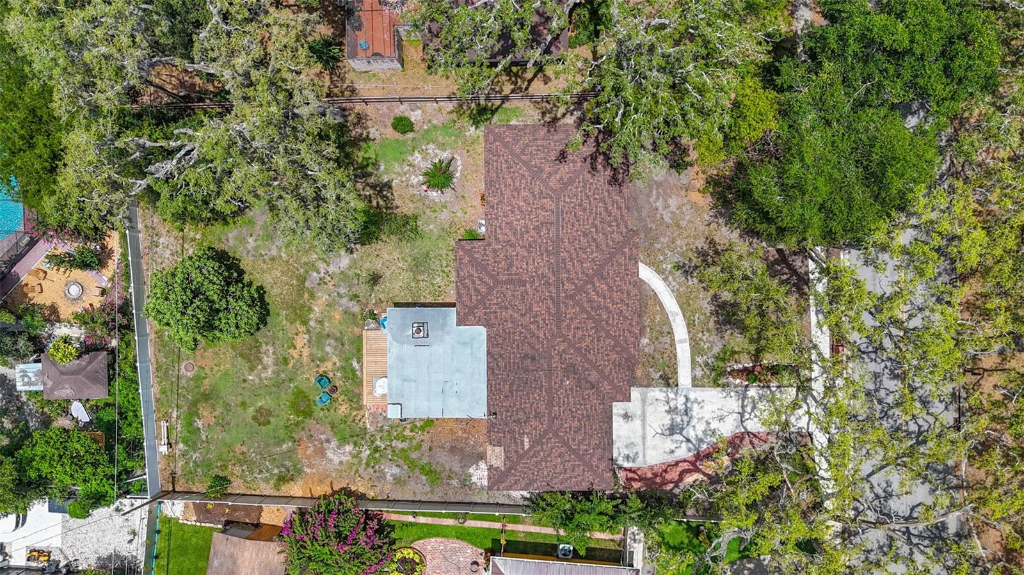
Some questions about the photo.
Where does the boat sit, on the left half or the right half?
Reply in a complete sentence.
The boat sits on the left side.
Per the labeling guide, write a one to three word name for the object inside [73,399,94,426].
boat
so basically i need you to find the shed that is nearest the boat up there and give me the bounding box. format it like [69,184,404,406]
[42,352,120,399]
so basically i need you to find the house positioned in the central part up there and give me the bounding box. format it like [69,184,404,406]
[387,124,640,492]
